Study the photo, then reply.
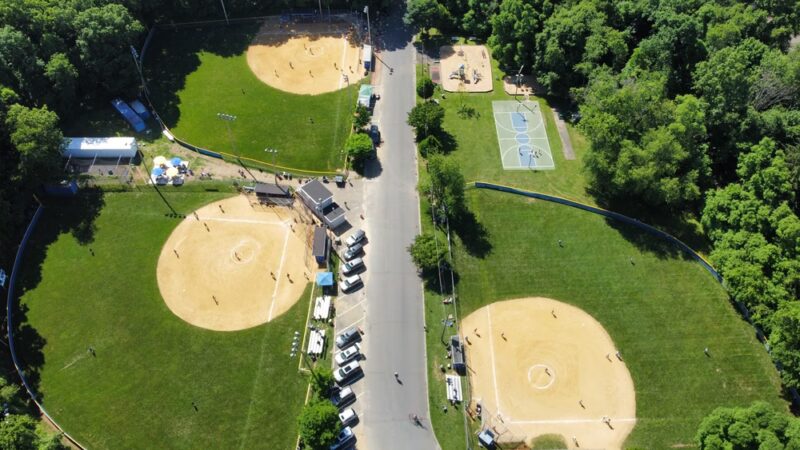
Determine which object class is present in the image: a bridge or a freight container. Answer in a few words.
freight container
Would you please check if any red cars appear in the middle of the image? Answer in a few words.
No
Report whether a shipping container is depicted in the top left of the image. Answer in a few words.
Yes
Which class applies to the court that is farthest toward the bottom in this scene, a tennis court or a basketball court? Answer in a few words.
basketball court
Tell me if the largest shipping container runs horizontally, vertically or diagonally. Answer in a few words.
diagonally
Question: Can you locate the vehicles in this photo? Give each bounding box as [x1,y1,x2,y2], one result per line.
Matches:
[344,230,367,247]
[330,427,358,450]
[339,275,362,292]
[334,362,360,383]
[335,345,361,365]
[331,387,359,409]
[336,329,362,349]
[342,242,365,260]
[334,442,355,450]
[335,406,360,428]
[341,256,365,275]
[370,123,380,141]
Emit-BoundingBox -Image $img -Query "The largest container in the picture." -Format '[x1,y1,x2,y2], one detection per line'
[111,98,148,138]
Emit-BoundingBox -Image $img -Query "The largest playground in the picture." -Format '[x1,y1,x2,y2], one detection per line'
[440,45,493,92]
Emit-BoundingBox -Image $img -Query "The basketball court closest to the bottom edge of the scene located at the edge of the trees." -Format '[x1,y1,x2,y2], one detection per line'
[493,101,553,170]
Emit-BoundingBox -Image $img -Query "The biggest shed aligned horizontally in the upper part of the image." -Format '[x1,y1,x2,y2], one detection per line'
[61,138,141,159]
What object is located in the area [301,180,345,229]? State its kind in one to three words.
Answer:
building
